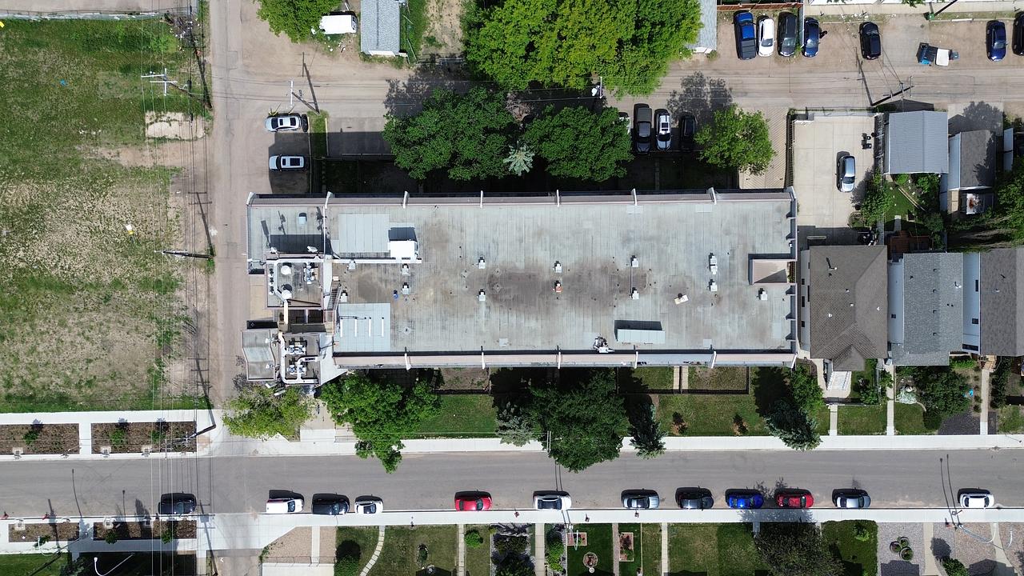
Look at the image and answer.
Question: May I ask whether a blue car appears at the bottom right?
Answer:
Yes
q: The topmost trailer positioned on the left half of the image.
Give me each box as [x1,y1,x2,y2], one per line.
[320,14,359,39]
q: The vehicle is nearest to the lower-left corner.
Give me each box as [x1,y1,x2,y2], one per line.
[156,496,194,515]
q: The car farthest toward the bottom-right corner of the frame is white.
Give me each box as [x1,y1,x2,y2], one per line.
[960,494,996,512]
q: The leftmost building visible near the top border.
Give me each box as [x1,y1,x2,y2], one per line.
[359,0,402,59]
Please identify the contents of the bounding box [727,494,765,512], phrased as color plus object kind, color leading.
blue car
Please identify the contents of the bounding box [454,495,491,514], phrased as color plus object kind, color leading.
red car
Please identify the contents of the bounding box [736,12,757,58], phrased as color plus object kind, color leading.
blue truck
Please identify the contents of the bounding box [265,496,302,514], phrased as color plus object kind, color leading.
white car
